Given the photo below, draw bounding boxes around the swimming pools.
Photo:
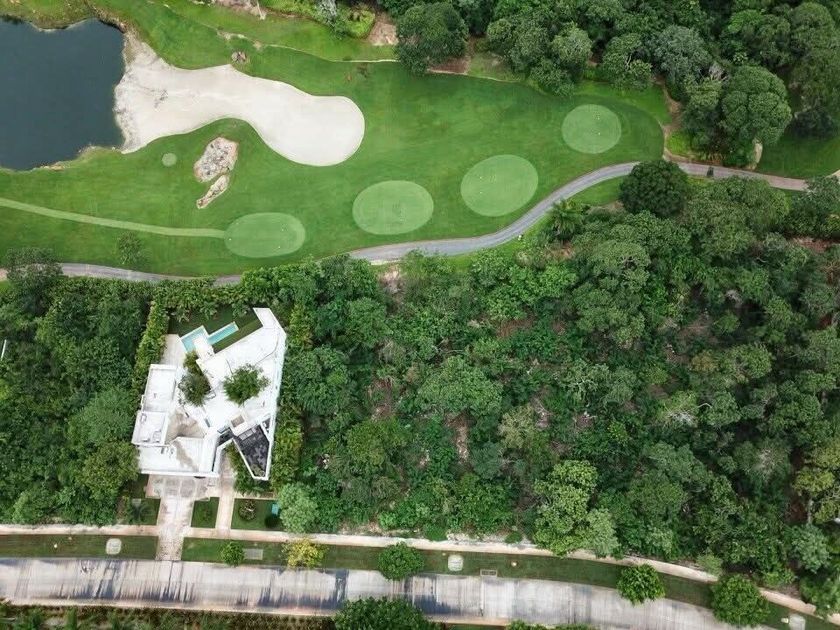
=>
[180,322,238,357]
